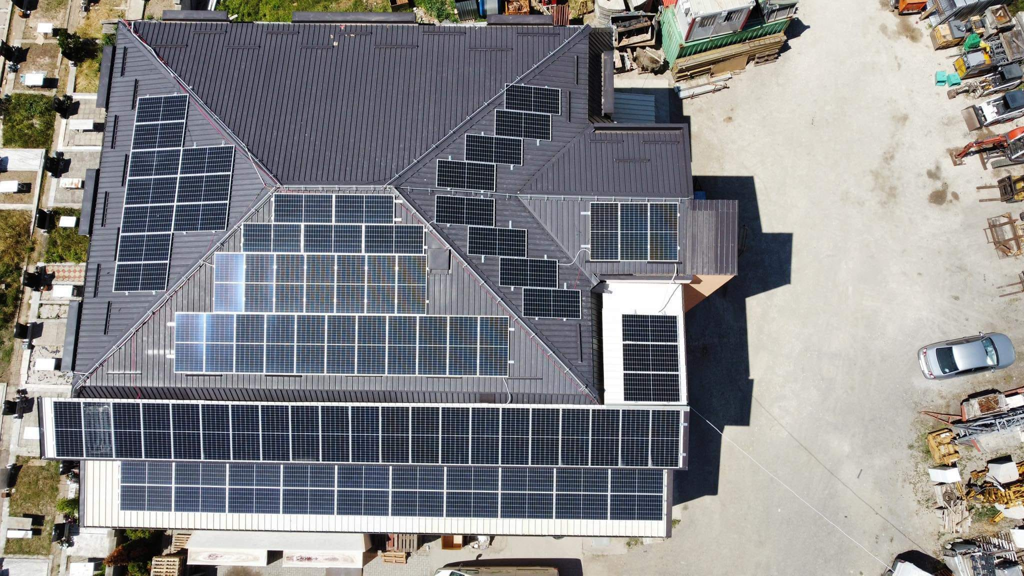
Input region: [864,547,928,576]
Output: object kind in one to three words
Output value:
van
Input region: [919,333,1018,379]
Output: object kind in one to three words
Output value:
car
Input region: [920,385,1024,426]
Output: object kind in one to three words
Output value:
trailer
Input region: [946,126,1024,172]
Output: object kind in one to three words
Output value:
work vehicle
